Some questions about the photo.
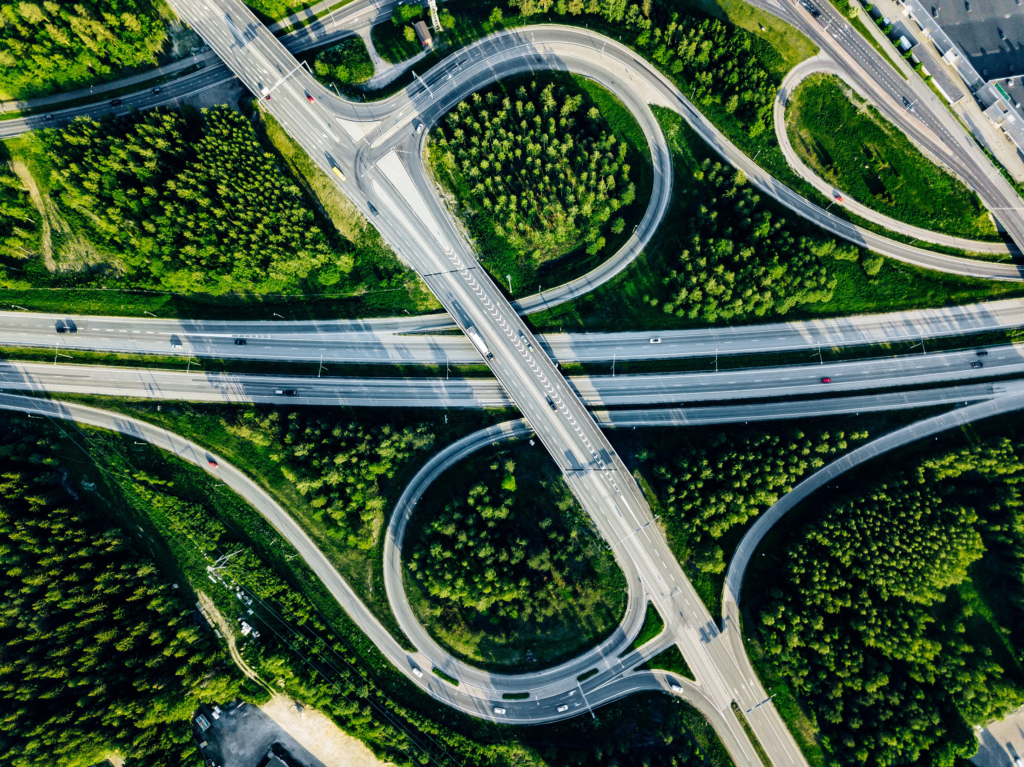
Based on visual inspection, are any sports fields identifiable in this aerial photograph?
No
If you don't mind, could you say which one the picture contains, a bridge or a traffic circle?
bridge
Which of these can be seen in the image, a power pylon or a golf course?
power pylon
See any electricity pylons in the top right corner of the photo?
No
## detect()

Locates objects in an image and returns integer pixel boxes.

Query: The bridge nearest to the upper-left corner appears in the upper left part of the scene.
[201,15,304,89]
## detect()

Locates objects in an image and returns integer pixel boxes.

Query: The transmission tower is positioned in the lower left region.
[198,549,243,577]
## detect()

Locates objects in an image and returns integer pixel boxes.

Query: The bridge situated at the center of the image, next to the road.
[422,266,628,471]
